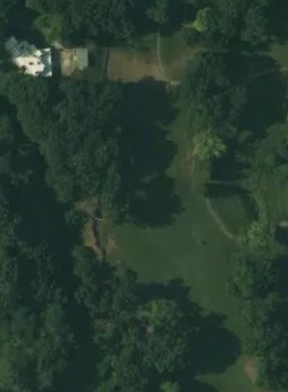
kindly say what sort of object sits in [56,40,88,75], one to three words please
house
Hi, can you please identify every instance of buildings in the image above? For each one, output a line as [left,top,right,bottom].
[56,40,88,75]
[11,39,51,77]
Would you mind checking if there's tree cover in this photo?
Yes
